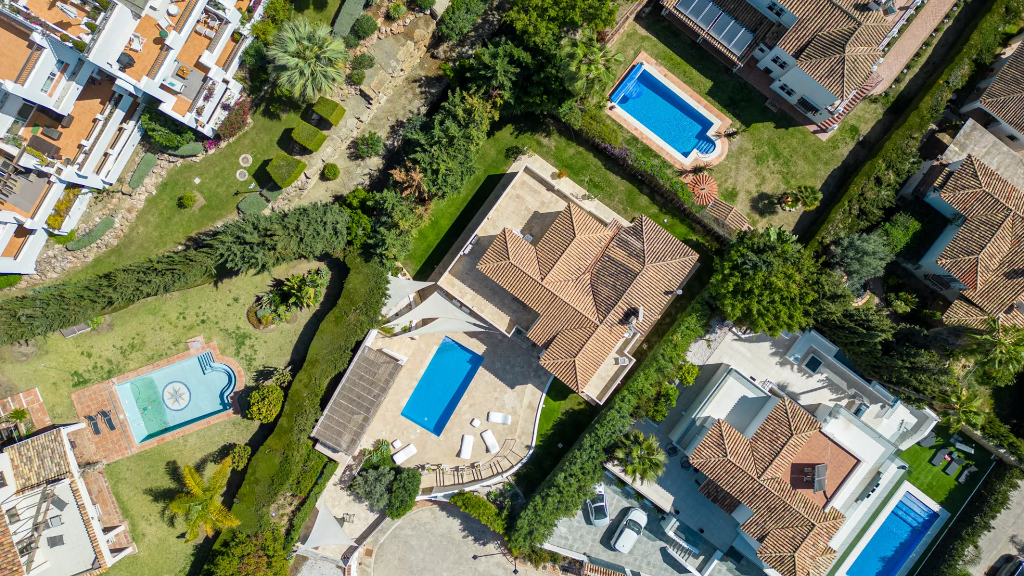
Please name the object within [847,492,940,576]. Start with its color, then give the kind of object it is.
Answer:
blue swimming pool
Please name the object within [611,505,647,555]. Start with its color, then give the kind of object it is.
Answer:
white car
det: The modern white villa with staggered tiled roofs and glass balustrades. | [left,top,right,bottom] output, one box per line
[663,364,901,576]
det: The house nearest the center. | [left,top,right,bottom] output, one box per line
[437,163,700,405]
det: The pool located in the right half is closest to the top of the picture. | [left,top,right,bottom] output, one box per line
[618,67,715,158]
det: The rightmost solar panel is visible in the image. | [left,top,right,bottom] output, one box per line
[806,460,829,501]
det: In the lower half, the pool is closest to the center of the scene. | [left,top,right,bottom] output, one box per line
[401,336,484,437]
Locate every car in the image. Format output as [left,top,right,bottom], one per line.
[611,505,647,555]
[590,485,611,529]
[992,548,1024,576]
